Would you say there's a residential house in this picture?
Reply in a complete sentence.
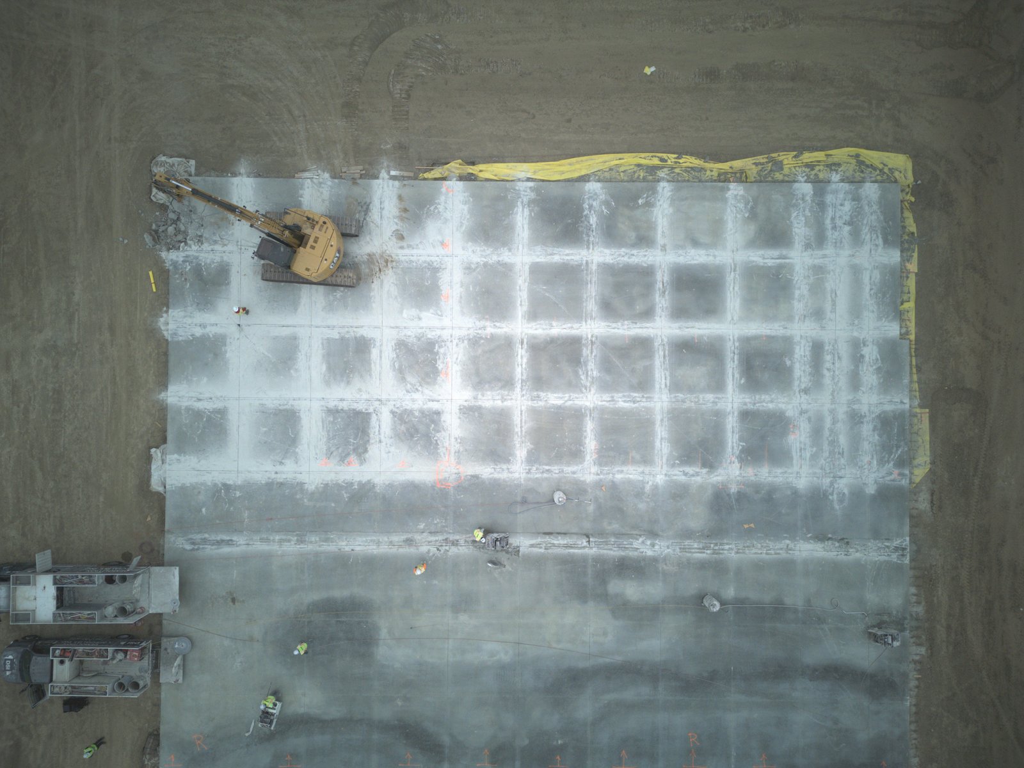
No, there is no residential house in the image.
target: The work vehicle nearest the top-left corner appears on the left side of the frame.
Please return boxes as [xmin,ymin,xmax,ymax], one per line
[149,167,364,285]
